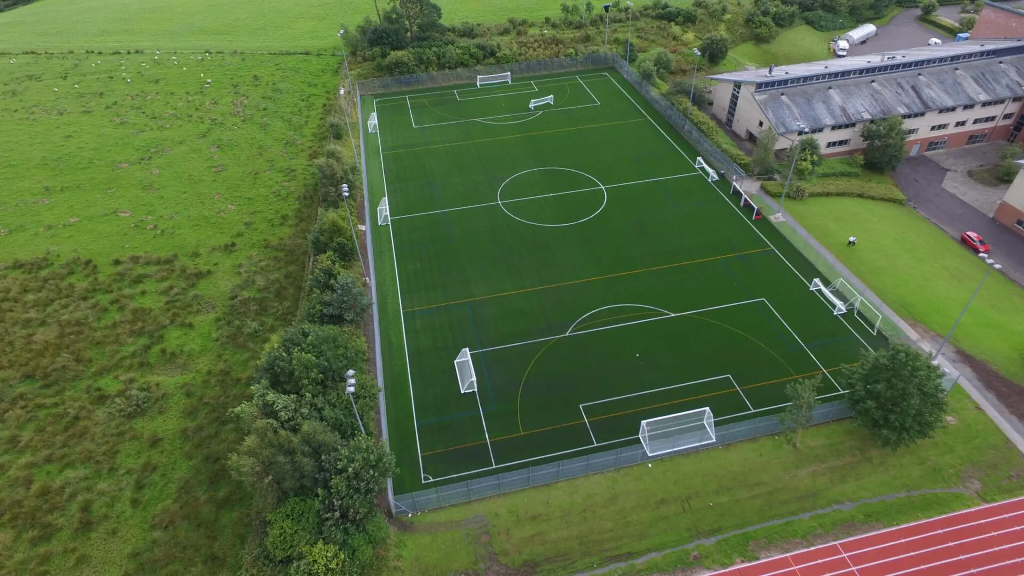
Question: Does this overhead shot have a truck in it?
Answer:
Yes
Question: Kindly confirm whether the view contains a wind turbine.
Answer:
No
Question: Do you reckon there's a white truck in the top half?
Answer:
Yes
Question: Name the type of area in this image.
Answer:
sports ground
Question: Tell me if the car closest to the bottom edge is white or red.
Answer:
red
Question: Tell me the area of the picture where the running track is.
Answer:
bottom right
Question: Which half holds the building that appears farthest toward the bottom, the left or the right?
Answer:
right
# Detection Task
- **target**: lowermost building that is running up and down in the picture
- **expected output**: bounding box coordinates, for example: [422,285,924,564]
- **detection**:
[990,169,1024,247]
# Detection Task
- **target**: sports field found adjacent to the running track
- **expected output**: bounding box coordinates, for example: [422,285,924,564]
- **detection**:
[362,67,897,514]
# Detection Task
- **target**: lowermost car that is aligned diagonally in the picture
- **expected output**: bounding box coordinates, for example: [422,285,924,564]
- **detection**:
[961,232,993,253]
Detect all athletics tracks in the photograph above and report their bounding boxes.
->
[708,495,1024,576]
